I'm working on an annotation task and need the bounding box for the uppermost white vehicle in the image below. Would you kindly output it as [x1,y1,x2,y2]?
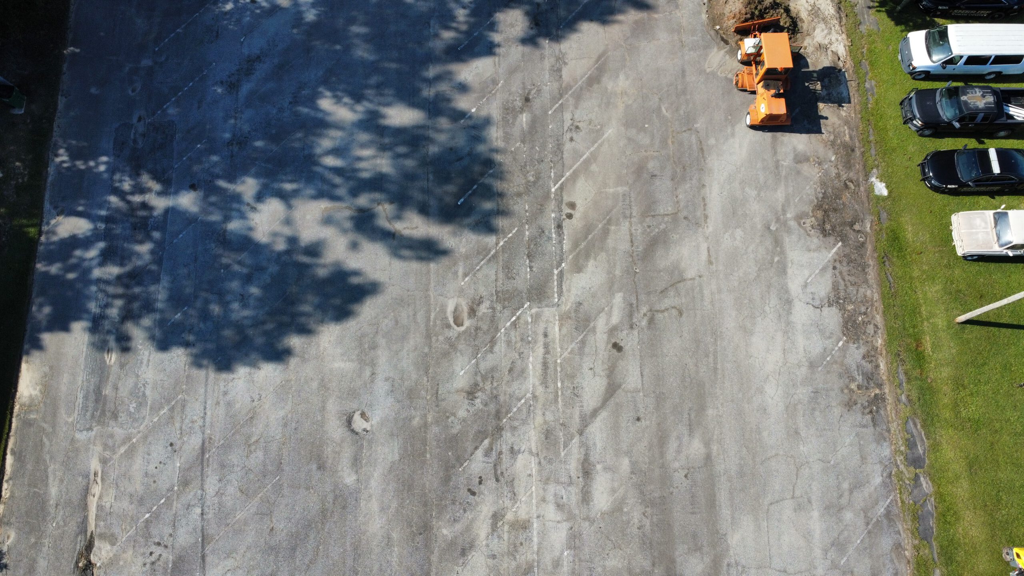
[897,22,1024,81]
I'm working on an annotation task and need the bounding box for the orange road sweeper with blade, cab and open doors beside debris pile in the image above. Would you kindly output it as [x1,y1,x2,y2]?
[726,17,801,129]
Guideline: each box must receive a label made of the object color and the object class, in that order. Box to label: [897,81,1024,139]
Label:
black truck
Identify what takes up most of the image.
paved ground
